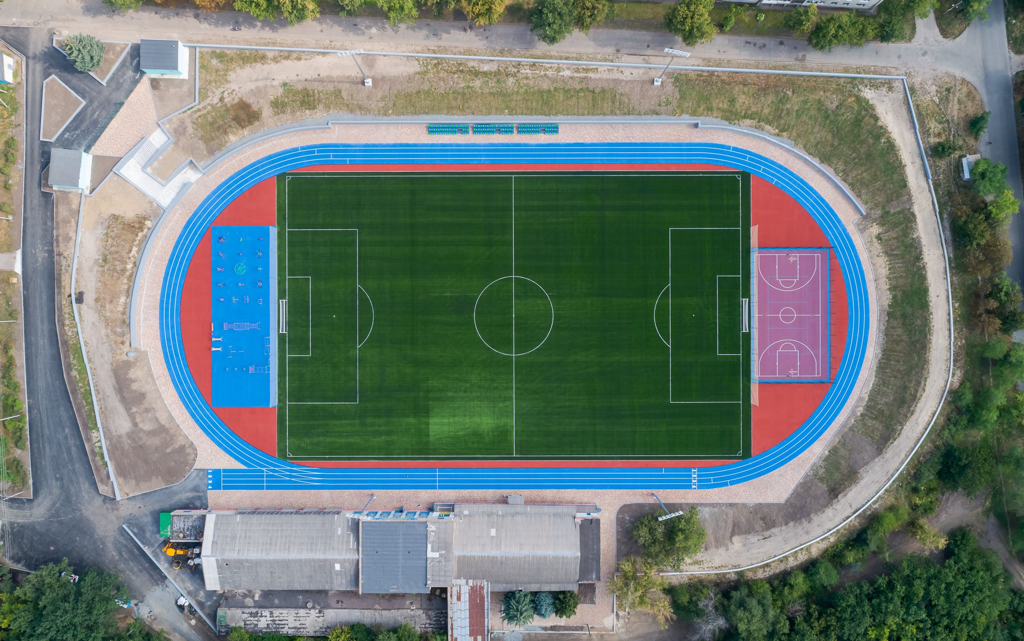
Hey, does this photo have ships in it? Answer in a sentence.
No, this view has no ship in it.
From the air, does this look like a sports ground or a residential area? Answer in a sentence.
This image shows a sports ground.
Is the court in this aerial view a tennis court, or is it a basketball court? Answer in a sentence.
What you see as the court is a basketball court.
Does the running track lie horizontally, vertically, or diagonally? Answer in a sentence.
What the image shows is the running track lying horizontally.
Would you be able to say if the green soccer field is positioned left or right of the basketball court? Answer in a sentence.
The green soccer field is to the left of the basketball court.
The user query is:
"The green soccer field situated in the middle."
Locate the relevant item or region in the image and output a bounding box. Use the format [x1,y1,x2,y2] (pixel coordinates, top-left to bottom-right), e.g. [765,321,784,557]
[276,171,752,461]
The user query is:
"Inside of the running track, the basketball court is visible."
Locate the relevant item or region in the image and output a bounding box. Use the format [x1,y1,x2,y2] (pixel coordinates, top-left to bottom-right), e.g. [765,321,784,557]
[752,248,830,382]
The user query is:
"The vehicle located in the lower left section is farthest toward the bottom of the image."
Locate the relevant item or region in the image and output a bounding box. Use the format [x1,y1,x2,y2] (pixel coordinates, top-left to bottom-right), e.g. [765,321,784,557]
[162,542,192,558]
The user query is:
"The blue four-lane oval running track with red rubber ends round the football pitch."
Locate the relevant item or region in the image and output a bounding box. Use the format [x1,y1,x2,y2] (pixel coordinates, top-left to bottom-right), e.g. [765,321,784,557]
[159,143,869,490]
